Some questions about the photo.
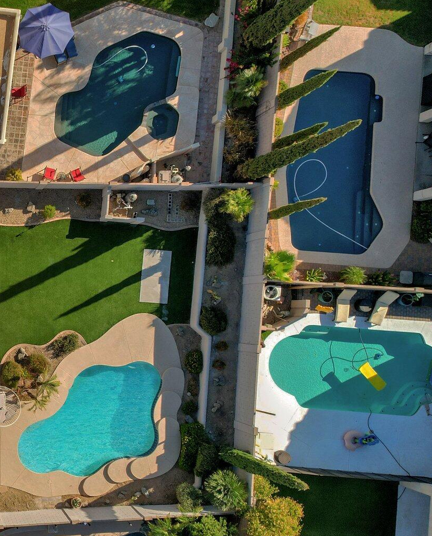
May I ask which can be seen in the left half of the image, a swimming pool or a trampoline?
swimming pool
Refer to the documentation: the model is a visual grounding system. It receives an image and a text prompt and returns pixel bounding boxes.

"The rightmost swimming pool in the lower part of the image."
[267,324,432,417]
